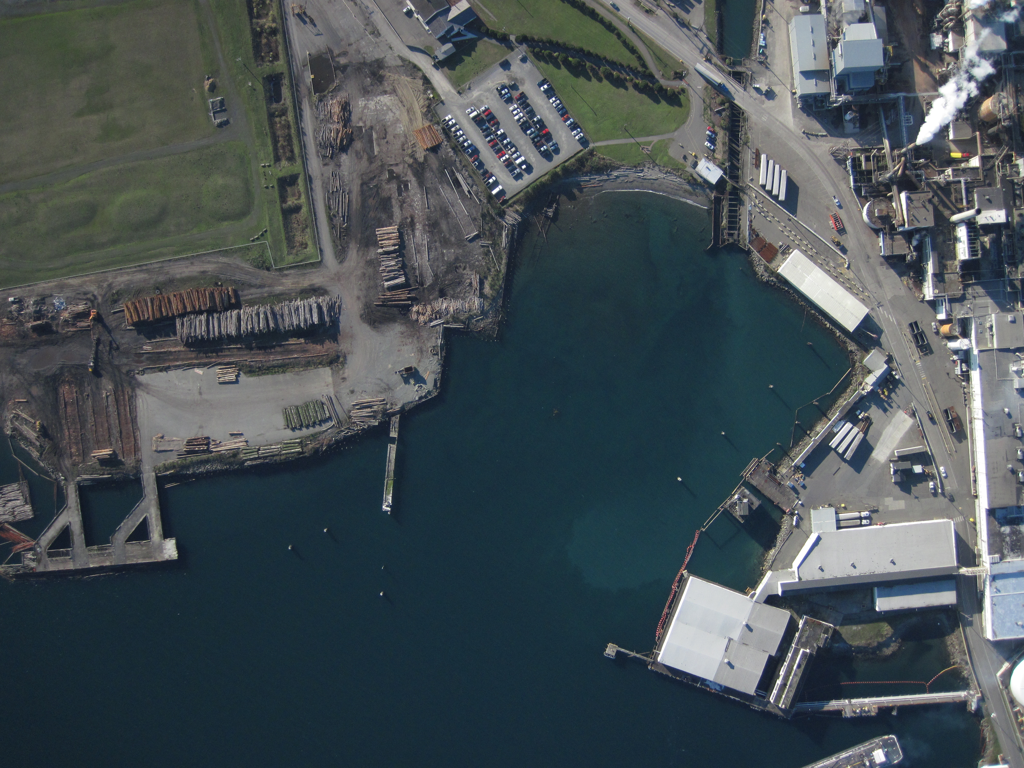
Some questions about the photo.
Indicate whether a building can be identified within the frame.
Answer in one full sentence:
Yes, there's a building here.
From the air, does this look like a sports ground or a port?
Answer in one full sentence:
What you see here is a port.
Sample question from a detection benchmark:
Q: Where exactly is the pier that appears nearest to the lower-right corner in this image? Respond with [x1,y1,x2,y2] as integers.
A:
[794,690,981,717]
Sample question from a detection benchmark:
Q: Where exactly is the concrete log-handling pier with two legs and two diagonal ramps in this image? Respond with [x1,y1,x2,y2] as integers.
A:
[34,472,178,573]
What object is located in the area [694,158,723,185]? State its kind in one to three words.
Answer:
building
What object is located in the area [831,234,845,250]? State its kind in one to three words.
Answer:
work vehicle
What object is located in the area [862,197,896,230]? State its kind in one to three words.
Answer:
storage tank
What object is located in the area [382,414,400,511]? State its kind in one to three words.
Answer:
pier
